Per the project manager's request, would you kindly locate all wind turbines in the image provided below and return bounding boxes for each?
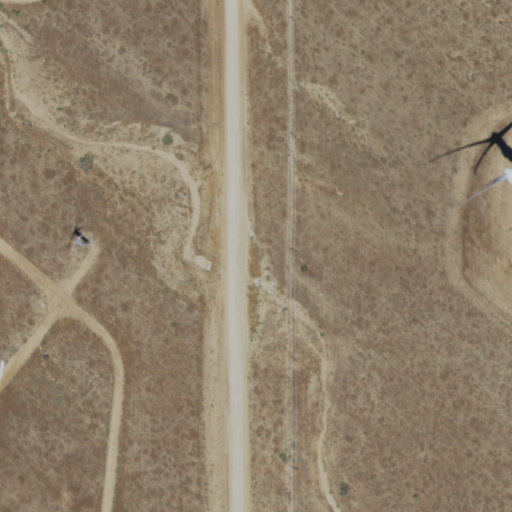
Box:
[446,170,512,216]
[70,234,91,256]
